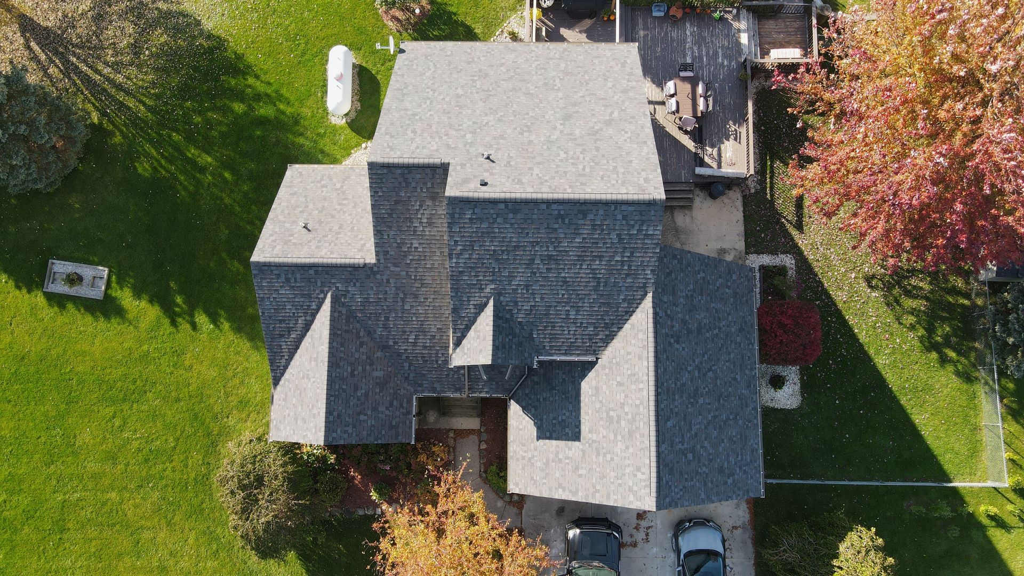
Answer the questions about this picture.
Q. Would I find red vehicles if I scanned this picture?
No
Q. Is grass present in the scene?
Yes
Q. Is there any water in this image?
No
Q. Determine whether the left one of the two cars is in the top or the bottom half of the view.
bottom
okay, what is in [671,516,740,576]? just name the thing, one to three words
car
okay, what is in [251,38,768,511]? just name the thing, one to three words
house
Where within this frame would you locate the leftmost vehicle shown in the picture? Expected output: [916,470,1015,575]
[563,516,624,576]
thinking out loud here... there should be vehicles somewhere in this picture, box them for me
[671,516,740,576]
[563,516,624,576]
